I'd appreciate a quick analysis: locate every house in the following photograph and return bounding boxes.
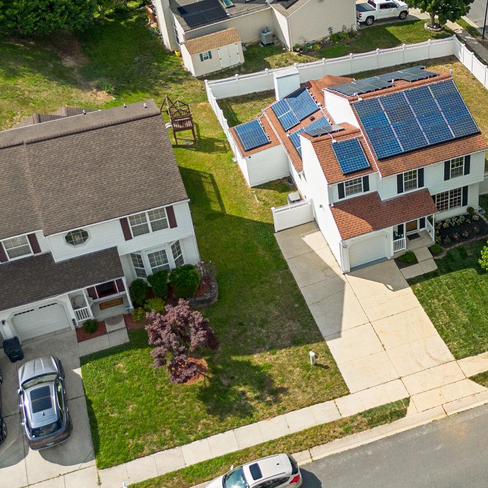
[0,96,198,348]
[227,67,488,275]
[159,0,356,51]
